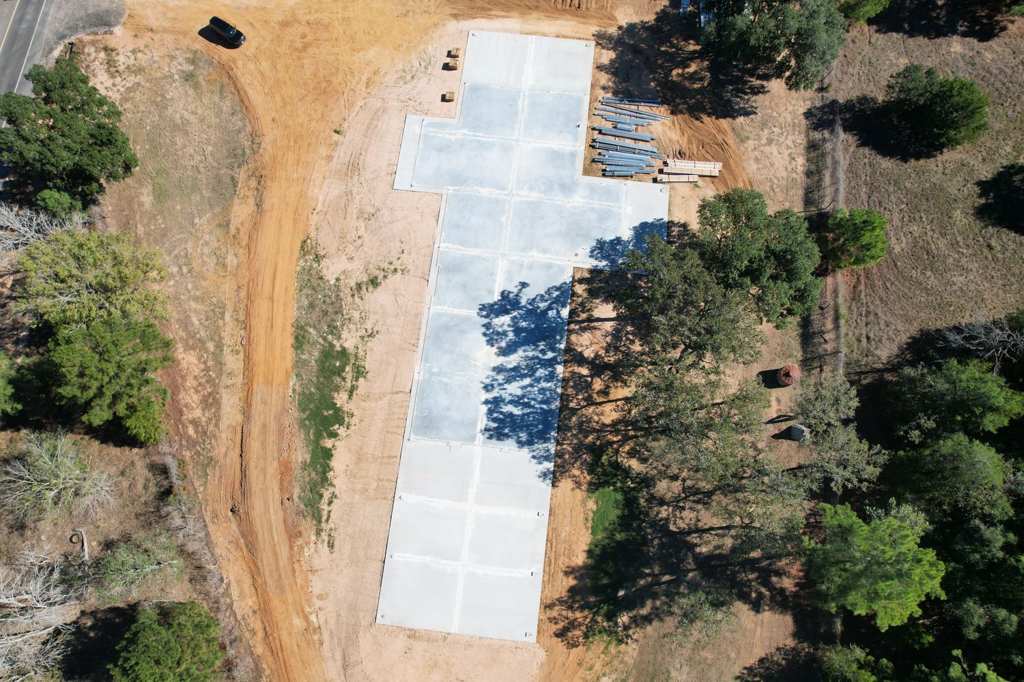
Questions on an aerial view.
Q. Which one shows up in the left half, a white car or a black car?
black car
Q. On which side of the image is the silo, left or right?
right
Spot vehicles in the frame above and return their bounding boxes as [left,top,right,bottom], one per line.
[206,15,247,47]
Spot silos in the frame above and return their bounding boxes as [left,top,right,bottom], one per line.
[777,364,804,387]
